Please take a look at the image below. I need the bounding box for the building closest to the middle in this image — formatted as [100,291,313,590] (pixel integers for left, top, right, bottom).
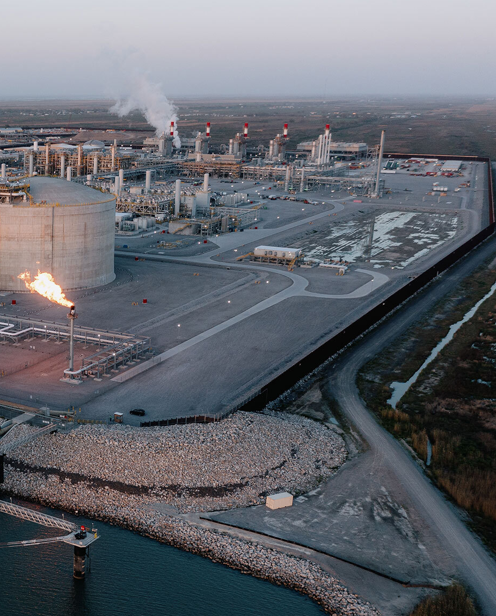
[242,243,301,266]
